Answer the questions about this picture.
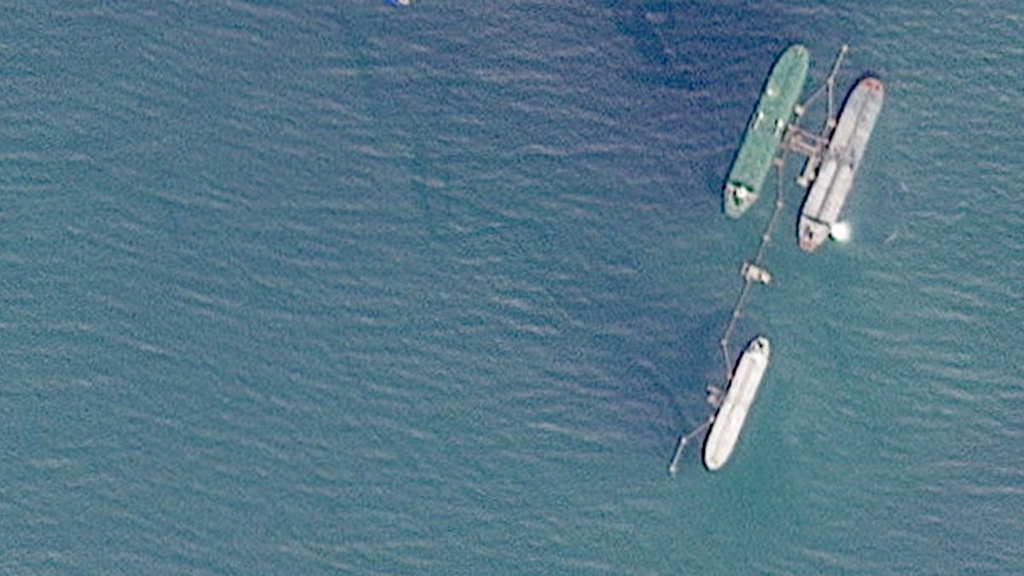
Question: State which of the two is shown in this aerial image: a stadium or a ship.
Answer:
ship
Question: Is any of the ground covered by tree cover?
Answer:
No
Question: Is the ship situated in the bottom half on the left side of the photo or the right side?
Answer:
right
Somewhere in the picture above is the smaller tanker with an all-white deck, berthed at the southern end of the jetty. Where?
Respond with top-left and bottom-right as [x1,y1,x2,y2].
[705,335,771,471]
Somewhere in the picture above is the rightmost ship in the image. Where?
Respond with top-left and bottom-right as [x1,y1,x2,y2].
[799,77,883,253]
